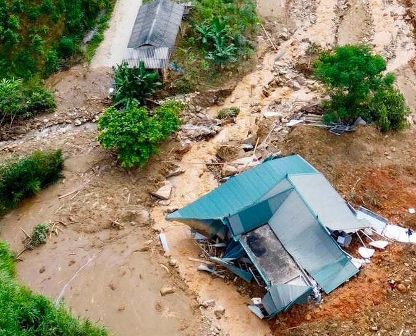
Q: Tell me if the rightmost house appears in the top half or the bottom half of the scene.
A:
bottom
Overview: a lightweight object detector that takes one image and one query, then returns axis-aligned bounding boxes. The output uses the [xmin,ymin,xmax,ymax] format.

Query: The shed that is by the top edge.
[117,0,185,85]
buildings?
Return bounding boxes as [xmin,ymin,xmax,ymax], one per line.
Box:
[166,154,381,319]
[117,0,185,85]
